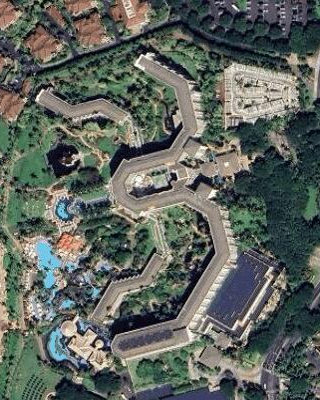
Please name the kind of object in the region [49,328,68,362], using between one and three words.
swimming pool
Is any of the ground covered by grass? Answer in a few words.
Yes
